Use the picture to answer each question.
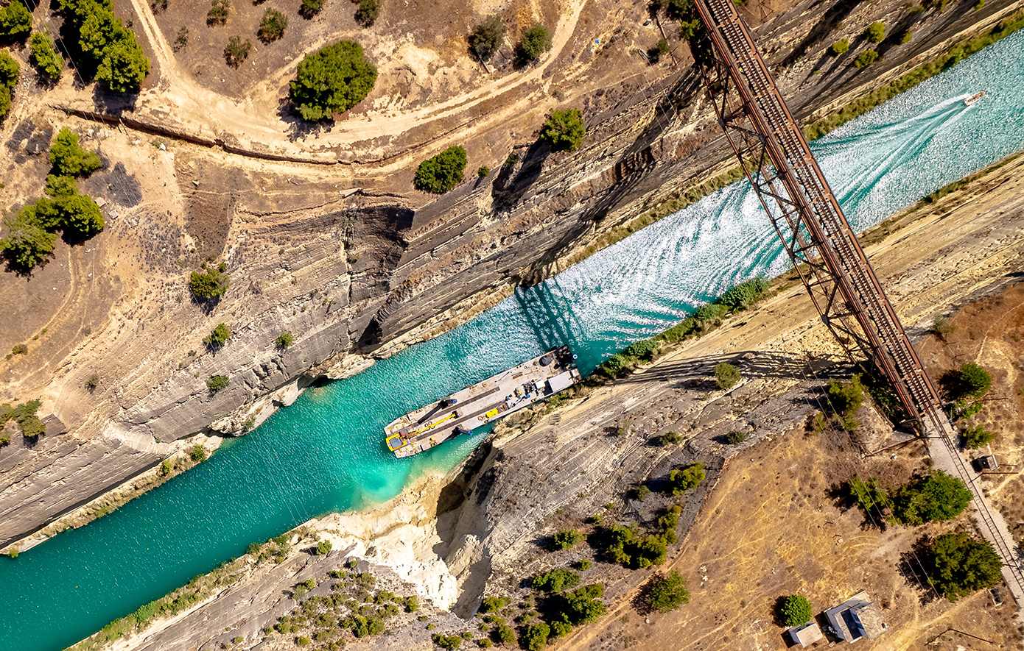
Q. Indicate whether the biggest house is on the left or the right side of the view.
right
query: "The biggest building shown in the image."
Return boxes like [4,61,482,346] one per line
[816,588,888,644]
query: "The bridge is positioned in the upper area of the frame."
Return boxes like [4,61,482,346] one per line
[698,0,942,416]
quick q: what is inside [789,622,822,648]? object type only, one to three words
shed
